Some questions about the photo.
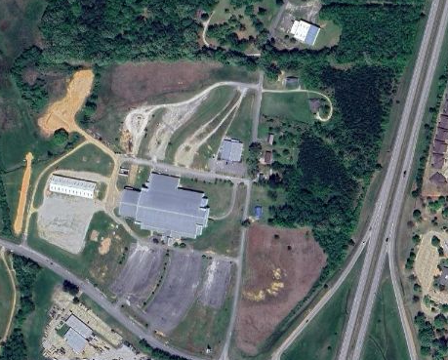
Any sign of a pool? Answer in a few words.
No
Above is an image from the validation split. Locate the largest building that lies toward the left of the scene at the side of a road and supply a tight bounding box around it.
[119,173,208,238]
